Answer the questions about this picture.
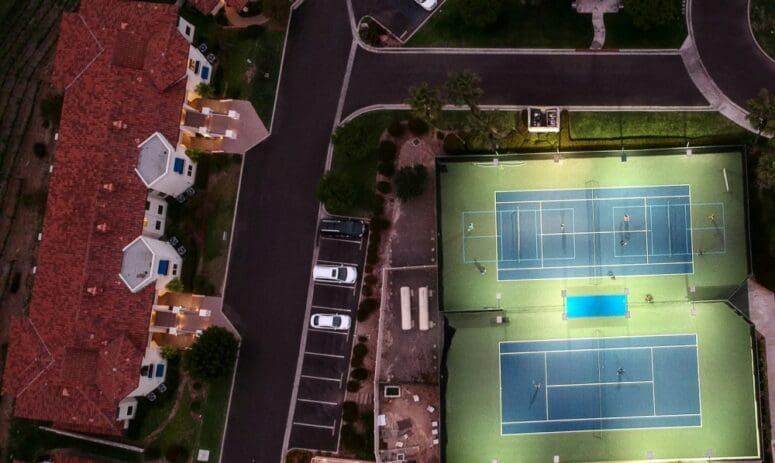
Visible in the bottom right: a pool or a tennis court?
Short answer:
tennis court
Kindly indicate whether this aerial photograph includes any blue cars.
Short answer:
No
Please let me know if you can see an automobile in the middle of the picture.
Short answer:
Yes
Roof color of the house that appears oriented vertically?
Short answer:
red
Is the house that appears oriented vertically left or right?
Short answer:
left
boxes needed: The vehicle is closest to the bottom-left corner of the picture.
[310,312,352,331]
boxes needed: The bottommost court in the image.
[444,303,758,463]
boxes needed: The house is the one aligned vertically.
[2,0,212,437]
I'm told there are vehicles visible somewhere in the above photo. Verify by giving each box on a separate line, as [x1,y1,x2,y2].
[414,0,439,12]
[313,263,359,284]
[320,219,368,241]
[310,312,352,331]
